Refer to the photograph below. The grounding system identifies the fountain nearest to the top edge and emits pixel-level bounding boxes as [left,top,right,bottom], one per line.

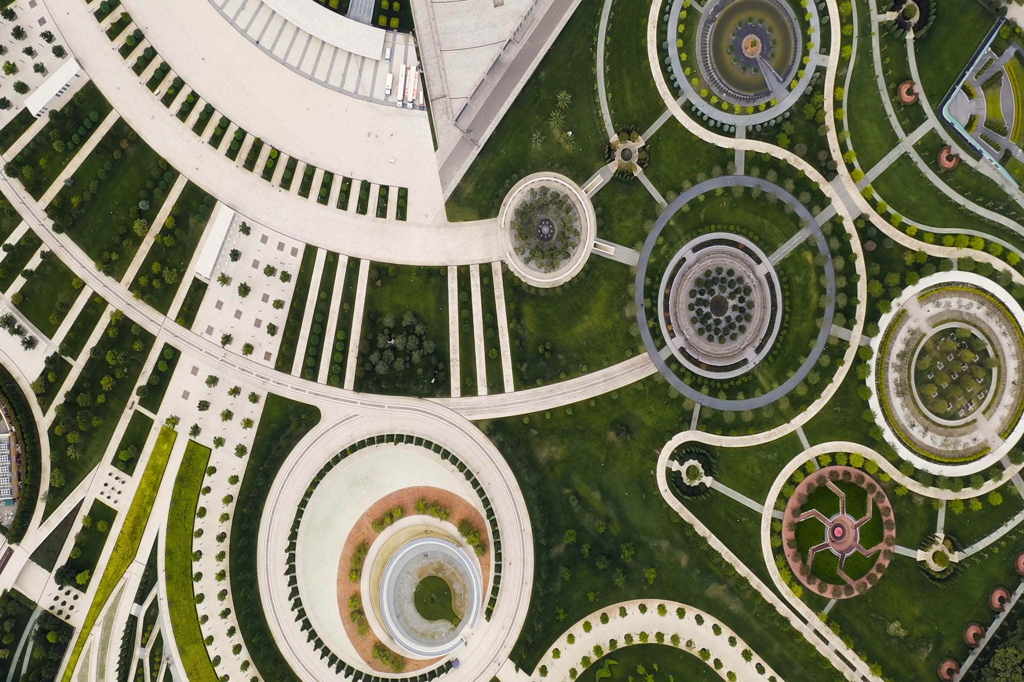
[695,0,802,107]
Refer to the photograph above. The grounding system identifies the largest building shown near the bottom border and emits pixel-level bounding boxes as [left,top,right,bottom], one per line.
[379,534,483,657]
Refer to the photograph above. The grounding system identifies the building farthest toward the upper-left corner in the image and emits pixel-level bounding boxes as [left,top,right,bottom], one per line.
[24,57,87,120]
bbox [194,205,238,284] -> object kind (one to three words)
building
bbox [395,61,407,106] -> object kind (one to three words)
vehicle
